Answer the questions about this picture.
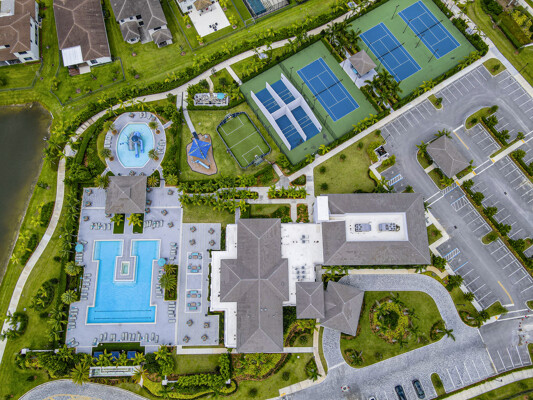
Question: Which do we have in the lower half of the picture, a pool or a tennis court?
pool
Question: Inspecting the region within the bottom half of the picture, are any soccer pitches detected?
No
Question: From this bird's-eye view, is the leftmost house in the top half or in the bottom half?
top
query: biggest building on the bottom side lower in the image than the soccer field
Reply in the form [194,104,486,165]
[210,193,430,353]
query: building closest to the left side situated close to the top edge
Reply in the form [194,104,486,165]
[0,0,42,65]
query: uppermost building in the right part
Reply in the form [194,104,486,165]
[349,50,376,79]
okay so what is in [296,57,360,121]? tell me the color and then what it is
blue tennis court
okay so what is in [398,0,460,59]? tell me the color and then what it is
blue tennis court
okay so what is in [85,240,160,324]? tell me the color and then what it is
blue swimming pool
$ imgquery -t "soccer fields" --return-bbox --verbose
[217,110,271,168]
